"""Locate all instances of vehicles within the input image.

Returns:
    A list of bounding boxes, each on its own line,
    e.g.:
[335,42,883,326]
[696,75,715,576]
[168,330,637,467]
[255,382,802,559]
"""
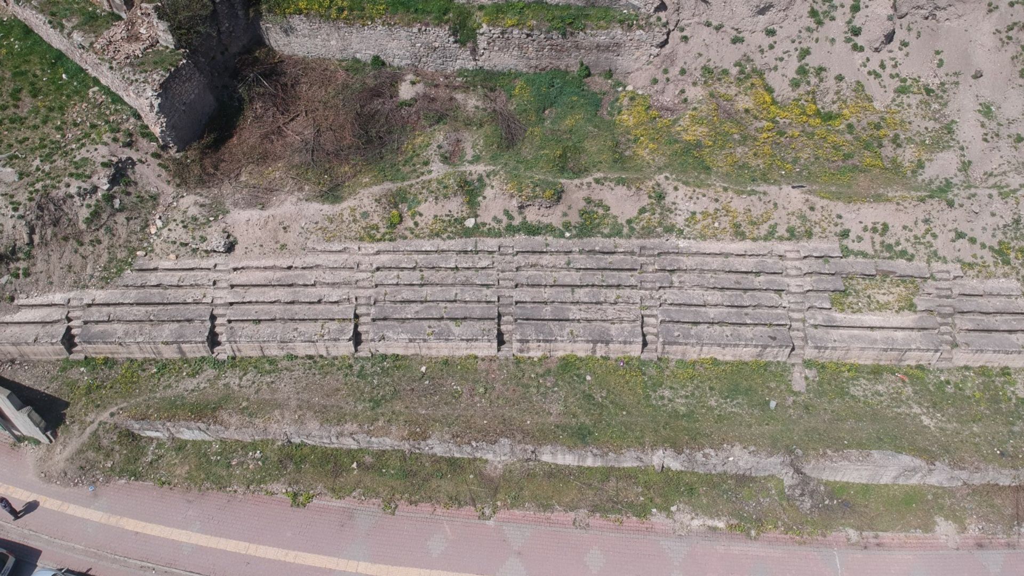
[0,545,17,576]
[29,563,77,576]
